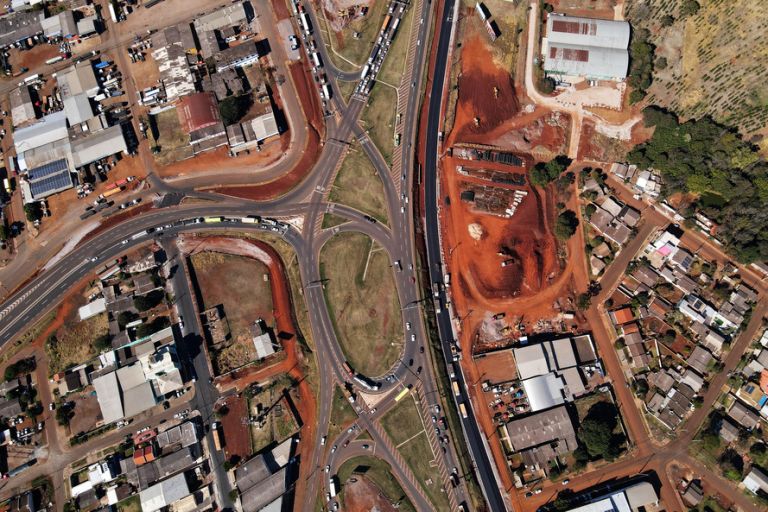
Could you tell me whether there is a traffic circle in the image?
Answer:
Yes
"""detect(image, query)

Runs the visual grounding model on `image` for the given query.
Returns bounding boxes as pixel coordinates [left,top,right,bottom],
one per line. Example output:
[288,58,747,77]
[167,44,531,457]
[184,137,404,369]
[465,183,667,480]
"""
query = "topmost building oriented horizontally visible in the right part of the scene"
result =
[546,14,630,49]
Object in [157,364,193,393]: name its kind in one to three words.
building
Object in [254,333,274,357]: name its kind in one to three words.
house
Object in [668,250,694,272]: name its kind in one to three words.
house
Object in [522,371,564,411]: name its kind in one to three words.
building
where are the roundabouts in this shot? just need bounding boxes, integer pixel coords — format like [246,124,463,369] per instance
[319,231,405,376]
